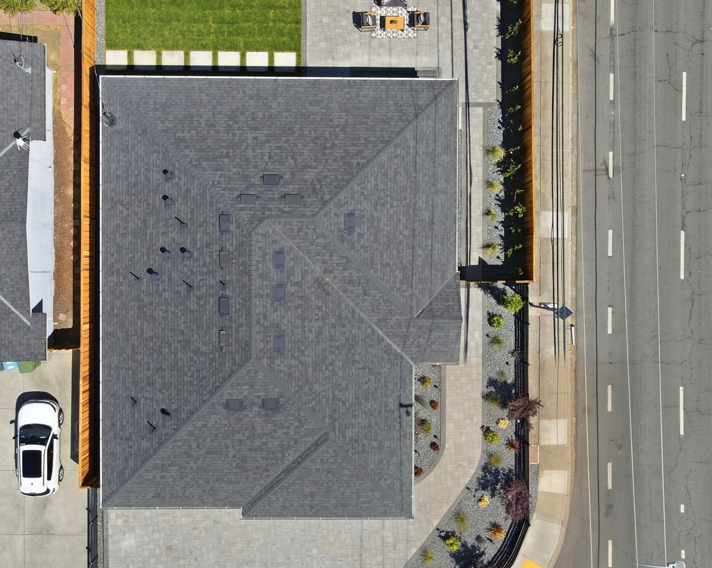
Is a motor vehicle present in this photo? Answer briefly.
Yes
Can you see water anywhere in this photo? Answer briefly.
No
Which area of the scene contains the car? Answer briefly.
bottom left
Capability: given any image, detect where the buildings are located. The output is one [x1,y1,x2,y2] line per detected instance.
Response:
[0,37,66,362]
[98,74,464,521]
